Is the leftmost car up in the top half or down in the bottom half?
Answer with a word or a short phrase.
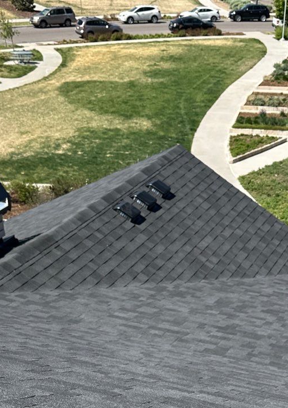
top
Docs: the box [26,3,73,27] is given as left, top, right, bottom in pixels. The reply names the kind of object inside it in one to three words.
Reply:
car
